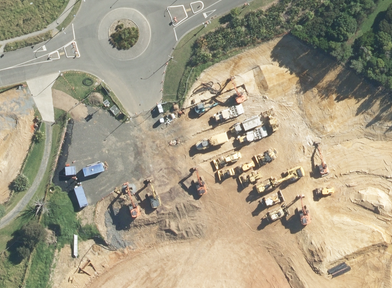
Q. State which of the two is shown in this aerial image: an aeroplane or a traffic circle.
traffic circle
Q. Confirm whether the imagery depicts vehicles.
Yes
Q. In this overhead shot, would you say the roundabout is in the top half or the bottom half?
top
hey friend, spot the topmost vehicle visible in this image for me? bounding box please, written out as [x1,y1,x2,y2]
[230,76,250,106]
